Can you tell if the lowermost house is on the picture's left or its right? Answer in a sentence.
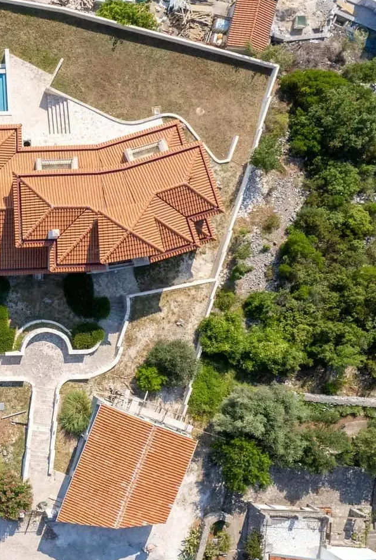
It is on the right.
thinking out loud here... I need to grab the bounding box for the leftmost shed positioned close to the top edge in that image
[222,0,277,55]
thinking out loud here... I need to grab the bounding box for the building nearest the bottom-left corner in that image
[55,392,198,530]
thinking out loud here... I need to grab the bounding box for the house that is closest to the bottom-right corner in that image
[240,496,376,560]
